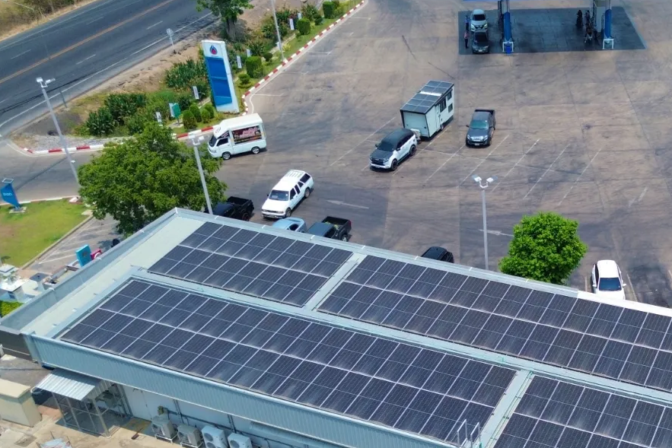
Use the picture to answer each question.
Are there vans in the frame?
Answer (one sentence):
Yes, the photo shows a van.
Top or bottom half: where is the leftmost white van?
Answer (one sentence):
The top half of the photo is where the leftmost white van is.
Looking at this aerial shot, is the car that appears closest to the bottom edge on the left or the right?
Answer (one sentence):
The car that appears closest to the bottom edge is on the right side of the image.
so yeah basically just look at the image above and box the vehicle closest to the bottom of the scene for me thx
[592,265,630,295]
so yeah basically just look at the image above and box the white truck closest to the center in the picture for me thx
[260,171,312,217]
